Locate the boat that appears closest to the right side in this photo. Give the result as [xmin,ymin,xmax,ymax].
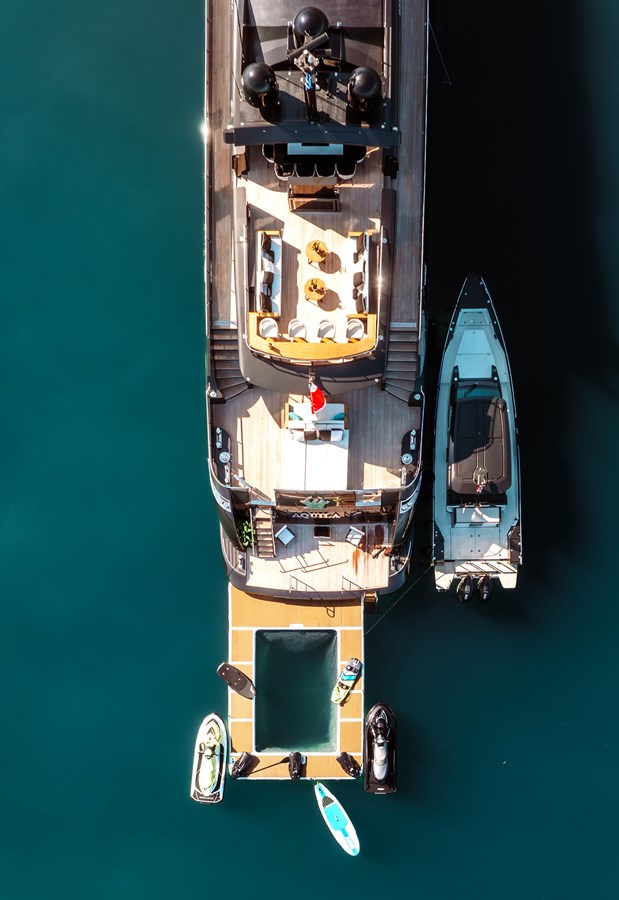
[432,273,522,602]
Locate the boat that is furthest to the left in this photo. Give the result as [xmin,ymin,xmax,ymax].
[190,712,227,804]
